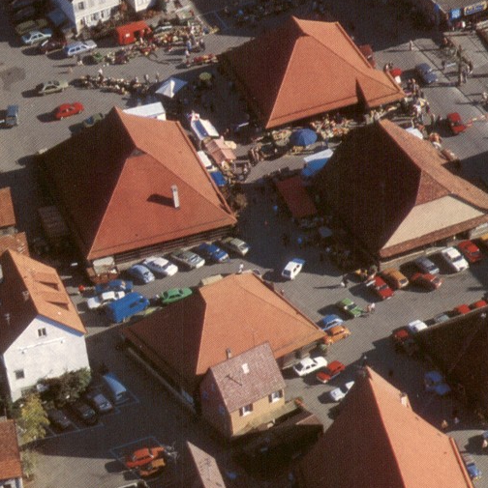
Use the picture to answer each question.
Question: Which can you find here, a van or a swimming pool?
van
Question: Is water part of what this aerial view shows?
No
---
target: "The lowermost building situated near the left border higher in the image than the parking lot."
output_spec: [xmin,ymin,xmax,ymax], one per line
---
[0,248,88,398]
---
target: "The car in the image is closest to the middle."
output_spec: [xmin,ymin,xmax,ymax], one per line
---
[217,231,253,258]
